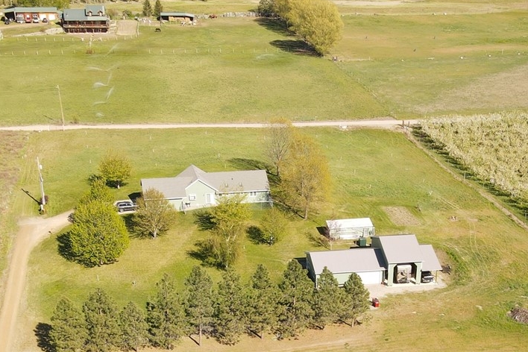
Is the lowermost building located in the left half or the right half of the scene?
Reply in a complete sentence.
The lowermost building appears in the right half of the scene.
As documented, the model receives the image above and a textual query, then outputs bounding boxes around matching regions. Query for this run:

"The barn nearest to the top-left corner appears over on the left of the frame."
[1,8,62,22]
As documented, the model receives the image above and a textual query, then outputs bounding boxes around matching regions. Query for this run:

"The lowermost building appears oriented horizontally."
[309,233,443,288]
